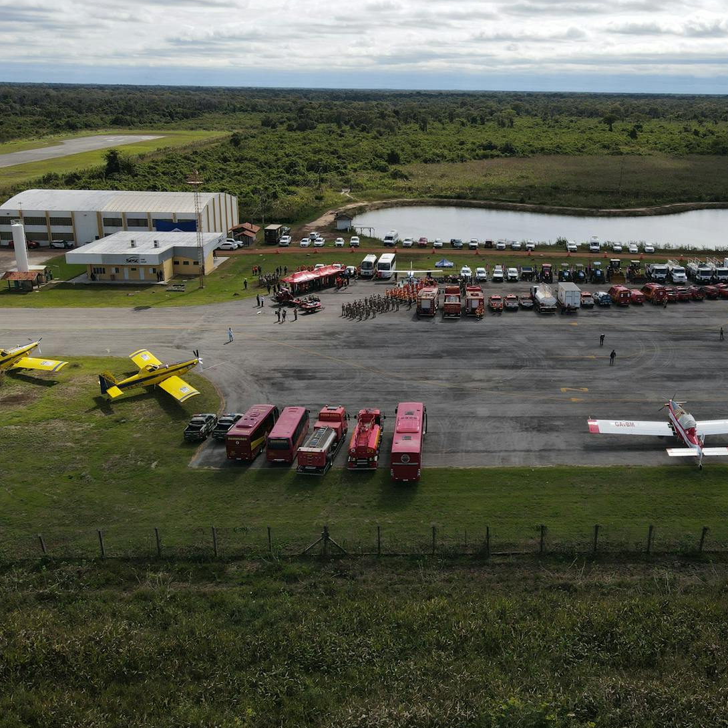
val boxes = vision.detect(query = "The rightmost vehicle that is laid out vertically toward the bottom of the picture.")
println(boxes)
[391,405,427,480]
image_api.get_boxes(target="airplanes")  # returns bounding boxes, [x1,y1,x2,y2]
[381,263,447,285]
[584,392,728,468]
[0,330,89,375]
[94,348,210,404]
